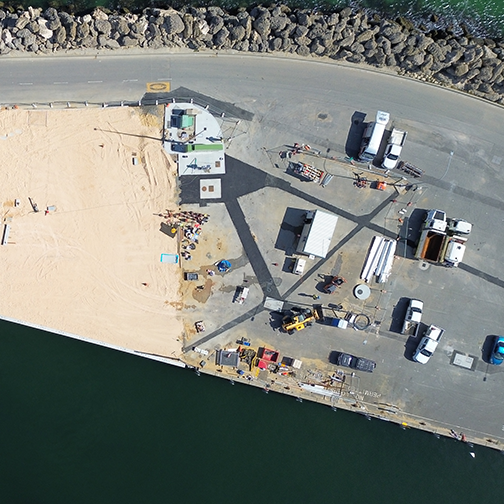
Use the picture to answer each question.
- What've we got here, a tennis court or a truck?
truck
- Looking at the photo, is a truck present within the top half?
Yes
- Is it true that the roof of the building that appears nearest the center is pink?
No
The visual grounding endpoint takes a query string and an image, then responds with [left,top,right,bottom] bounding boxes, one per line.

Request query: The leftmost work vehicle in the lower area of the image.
[281,302,325,333]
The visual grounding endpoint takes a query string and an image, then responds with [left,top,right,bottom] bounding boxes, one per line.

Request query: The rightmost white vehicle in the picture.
[442,218,471,266]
